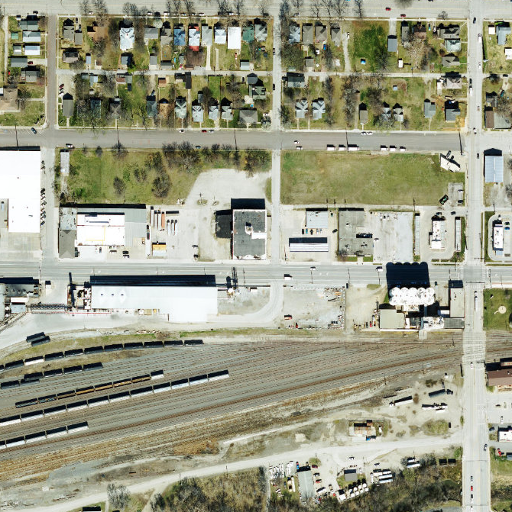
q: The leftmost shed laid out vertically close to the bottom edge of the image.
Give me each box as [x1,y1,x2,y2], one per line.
[298,471,314,502]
